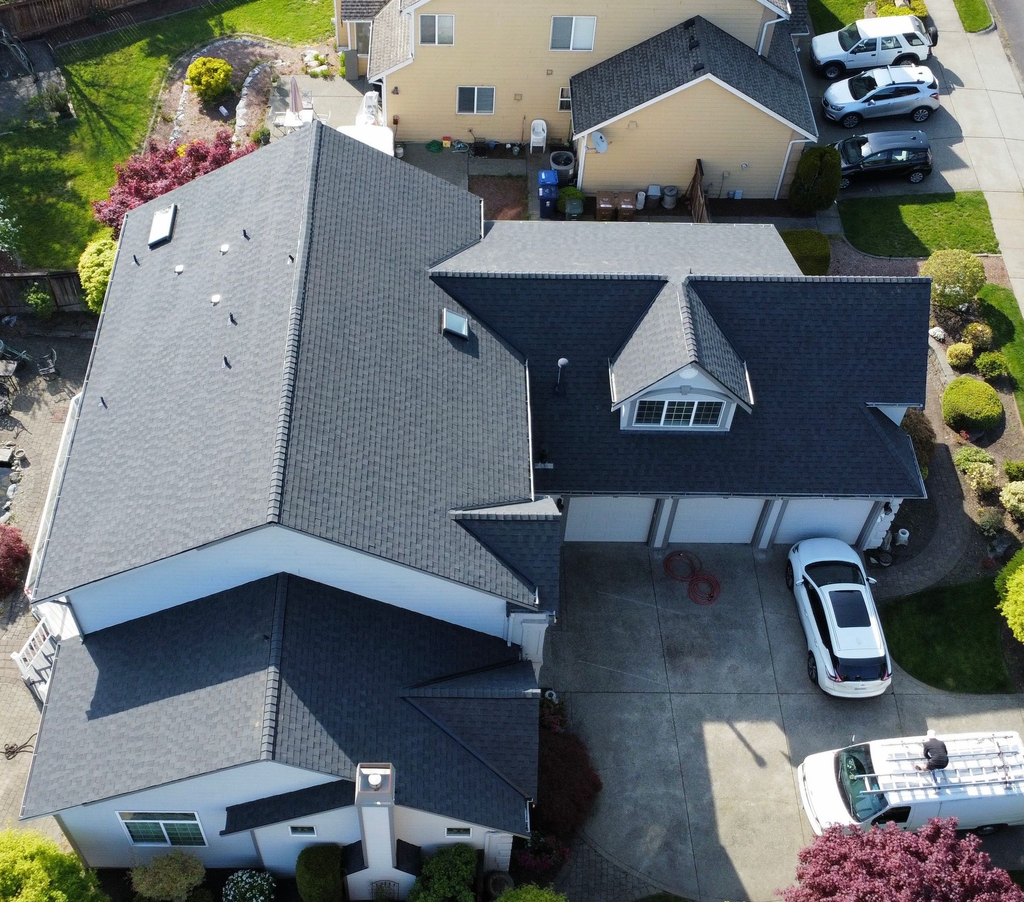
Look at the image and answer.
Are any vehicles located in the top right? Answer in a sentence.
Yes, a vehicle appears in the top right.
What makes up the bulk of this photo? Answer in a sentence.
Most of the picture is covered by buildings.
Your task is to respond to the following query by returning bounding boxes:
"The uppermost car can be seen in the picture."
[800,6,937,79]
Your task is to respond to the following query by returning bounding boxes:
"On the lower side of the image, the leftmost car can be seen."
[790,545,897,710]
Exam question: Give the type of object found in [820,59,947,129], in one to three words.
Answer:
car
